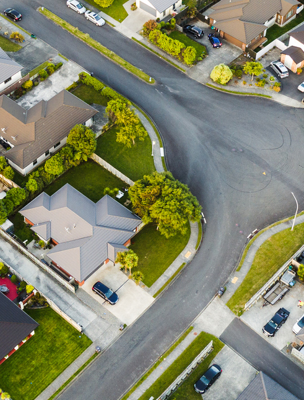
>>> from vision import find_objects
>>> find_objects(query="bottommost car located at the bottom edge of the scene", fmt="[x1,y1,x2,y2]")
[193,361,224,397]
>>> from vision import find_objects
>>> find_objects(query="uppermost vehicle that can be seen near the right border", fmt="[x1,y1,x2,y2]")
[268,59,292,81]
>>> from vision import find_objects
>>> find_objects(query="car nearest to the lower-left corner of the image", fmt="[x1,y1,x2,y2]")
[89,278,120,305]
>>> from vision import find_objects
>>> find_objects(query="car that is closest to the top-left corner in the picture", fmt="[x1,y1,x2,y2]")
[2,7,24,23]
